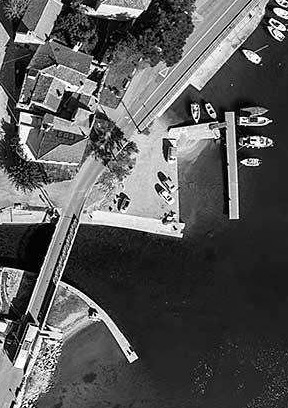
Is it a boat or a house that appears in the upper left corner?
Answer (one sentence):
The one visible in the upper left corner is a house.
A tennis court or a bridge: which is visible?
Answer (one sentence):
Of the two, only a bridge appears.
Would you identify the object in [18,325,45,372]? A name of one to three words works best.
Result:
bus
